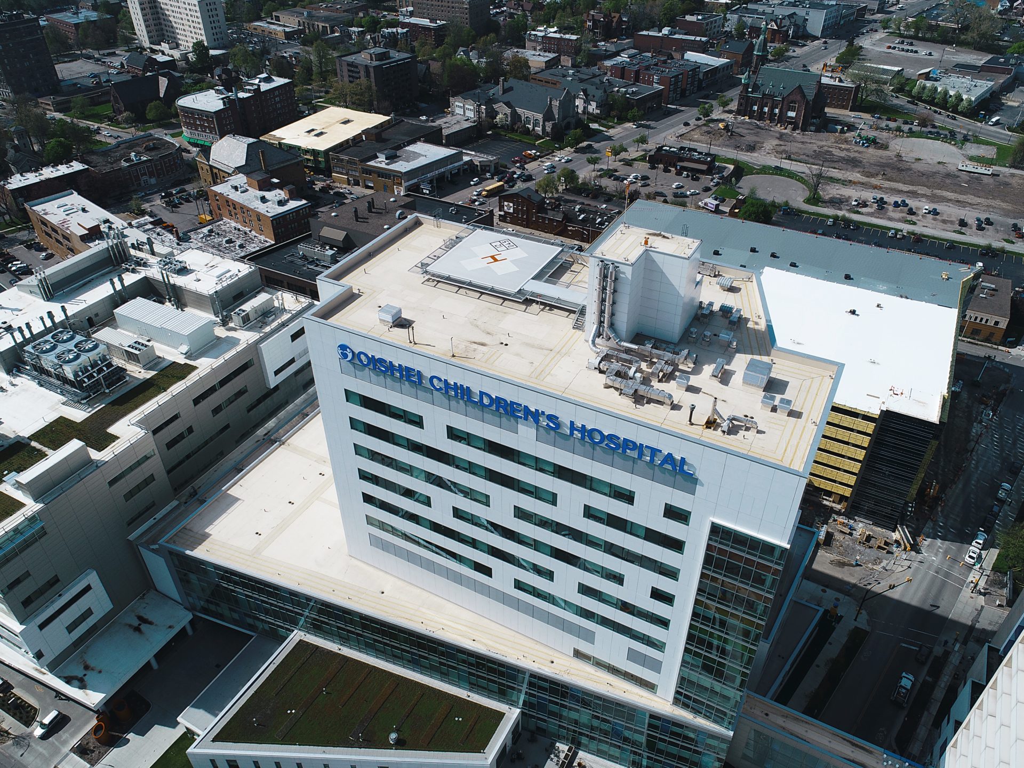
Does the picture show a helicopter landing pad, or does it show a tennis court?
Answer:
helicopter landing pad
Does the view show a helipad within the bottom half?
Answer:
No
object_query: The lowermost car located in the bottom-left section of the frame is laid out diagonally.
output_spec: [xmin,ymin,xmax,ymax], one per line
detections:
[30,705,66,739]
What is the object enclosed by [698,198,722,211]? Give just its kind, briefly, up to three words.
vehicle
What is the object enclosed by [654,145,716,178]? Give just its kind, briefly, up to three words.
building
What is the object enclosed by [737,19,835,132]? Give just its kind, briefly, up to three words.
building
